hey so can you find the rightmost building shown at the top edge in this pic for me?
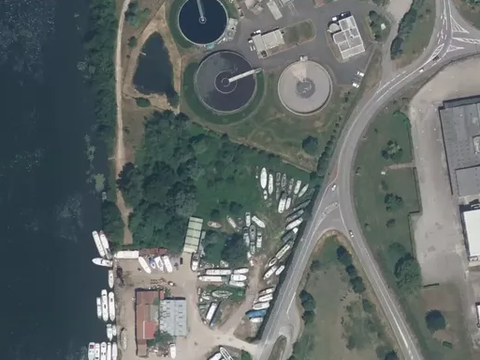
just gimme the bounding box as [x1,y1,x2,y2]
[334,15,366,58]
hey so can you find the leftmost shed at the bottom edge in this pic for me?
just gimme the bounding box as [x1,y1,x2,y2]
[136,290,159,357]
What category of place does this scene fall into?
industrial area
